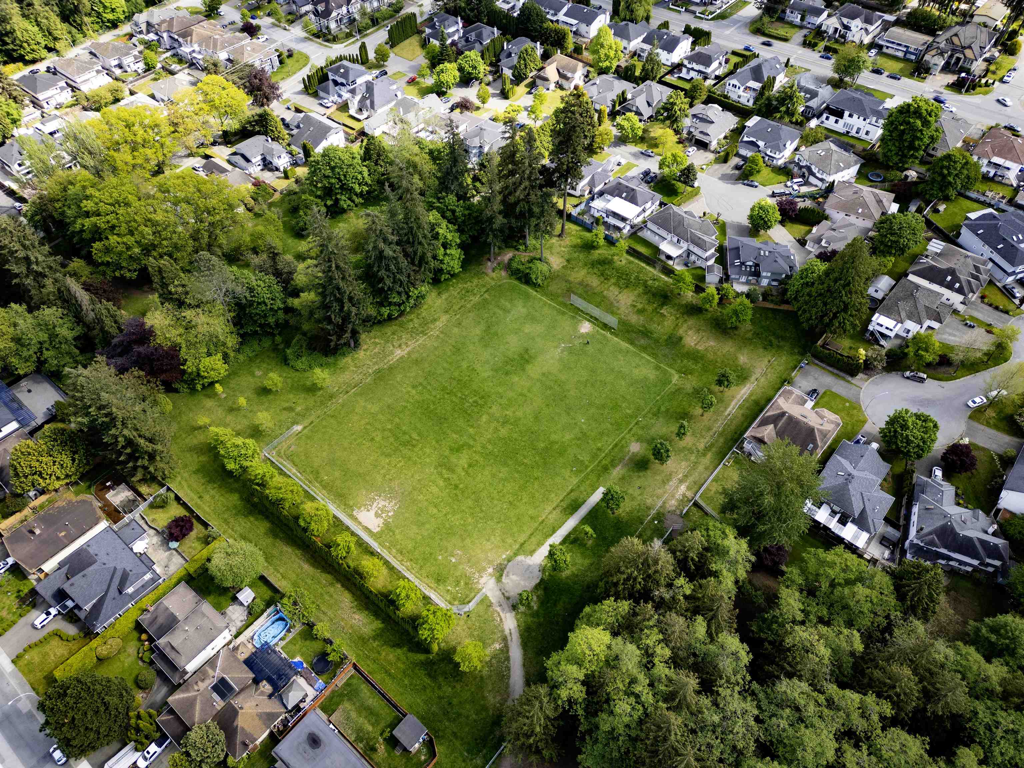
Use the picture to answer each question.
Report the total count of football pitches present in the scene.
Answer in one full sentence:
Only 1 football pitch is visible.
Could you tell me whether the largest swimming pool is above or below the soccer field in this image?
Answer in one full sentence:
In the image, the largest swimming pool sits below the soccer field.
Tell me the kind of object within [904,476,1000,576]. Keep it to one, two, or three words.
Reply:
house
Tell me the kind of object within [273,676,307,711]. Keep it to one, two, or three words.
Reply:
gazebo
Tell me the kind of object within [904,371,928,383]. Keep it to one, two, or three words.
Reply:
vehicle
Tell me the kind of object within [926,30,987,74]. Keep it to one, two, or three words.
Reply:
house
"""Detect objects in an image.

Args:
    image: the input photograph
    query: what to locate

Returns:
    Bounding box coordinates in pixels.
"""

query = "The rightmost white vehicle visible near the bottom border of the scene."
[137,734,173,768]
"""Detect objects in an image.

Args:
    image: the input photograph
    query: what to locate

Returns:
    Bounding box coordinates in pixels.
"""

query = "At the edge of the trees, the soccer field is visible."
[277,280,677,604]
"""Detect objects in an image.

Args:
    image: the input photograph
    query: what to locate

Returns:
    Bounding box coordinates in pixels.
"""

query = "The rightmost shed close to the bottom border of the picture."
[392,714,427,753]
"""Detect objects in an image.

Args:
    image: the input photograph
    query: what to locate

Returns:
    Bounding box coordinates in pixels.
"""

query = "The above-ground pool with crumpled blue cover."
[252,610,290,648]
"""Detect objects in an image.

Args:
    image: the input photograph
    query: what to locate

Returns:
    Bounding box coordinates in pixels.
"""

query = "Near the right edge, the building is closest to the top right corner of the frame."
[971,2,1008,28]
